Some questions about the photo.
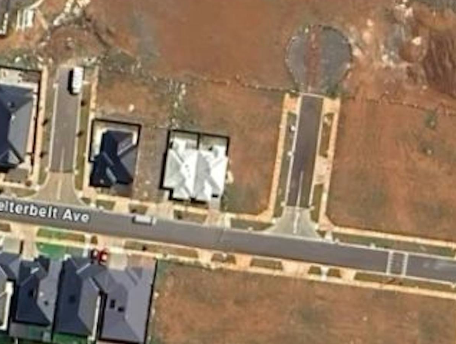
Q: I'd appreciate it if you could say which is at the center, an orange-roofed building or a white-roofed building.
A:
white-roofed building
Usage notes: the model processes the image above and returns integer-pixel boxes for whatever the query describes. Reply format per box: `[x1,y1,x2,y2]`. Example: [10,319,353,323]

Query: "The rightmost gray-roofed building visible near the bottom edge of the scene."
[99,267,150,344]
